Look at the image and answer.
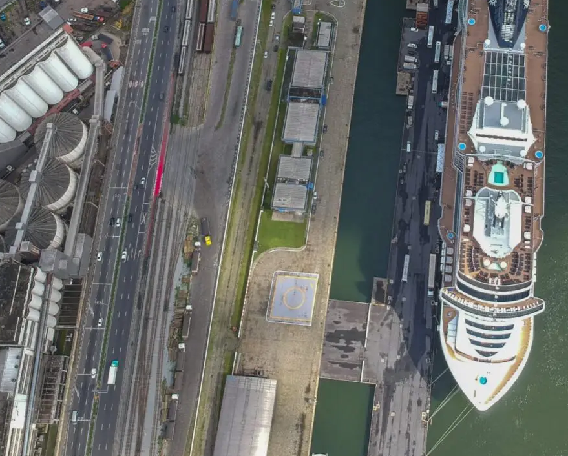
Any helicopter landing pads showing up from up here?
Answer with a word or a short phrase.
Yes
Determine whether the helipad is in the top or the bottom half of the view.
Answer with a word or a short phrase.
bottom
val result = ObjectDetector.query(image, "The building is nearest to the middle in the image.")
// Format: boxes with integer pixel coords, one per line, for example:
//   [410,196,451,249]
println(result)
[271,180,309,211]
